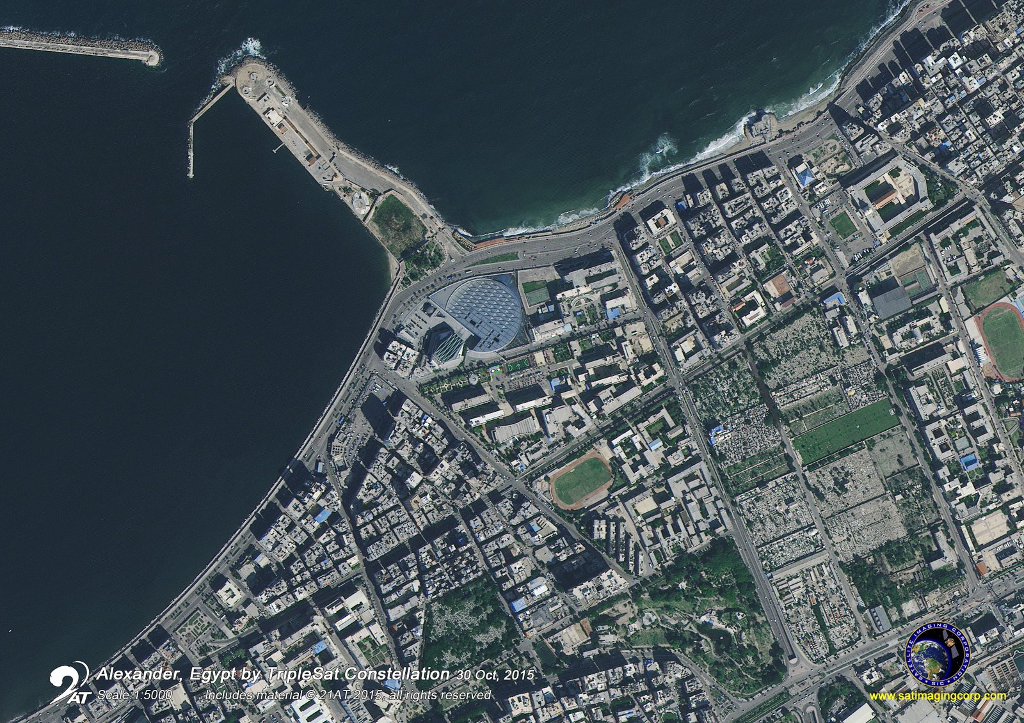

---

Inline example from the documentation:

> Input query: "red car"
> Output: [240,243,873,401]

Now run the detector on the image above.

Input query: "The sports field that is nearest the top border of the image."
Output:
[963,270,1013,307]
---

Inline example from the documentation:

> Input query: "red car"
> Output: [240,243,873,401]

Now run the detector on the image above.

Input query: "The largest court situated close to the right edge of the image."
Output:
[970,510,1010,545]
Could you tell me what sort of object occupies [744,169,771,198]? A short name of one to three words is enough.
building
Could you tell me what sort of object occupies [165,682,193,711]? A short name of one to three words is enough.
building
